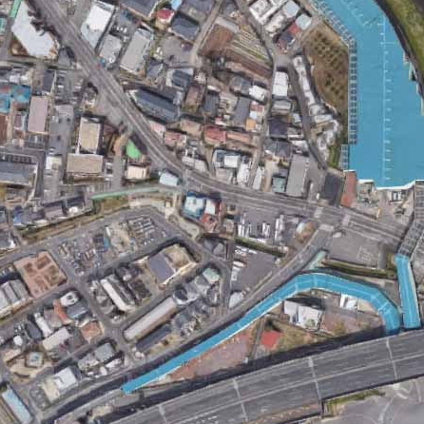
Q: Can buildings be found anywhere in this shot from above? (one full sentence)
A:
Yes, I can see a building in this picture.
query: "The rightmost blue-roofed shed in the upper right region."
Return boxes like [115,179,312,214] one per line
[325,0,424,194]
